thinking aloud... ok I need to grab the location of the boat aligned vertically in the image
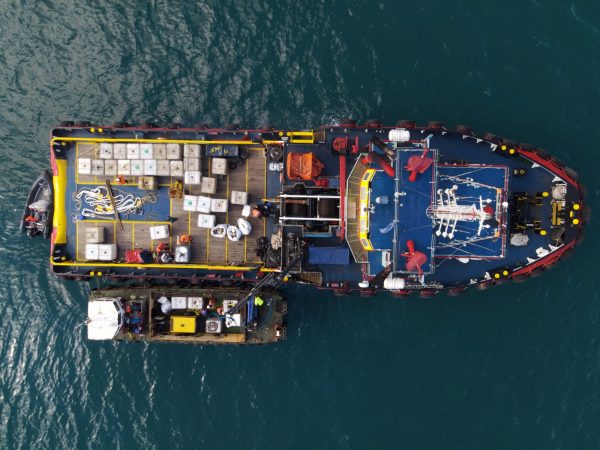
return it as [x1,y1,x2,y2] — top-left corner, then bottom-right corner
[19,169,54,241]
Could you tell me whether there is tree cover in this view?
No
